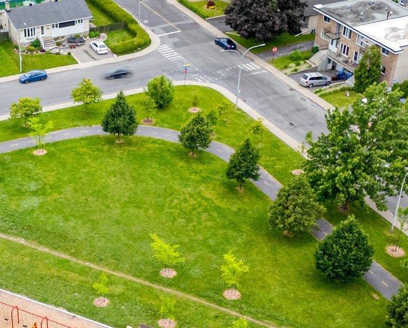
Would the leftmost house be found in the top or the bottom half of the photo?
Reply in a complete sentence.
Seen from above, the leftmost house lies in the top half of the view.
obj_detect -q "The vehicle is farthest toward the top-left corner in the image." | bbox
[18,68,49,83]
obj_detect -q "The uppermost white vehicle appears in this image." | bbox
[89,40,109,55]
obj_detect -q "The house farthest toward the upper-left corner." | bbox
[0,0,93,48]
